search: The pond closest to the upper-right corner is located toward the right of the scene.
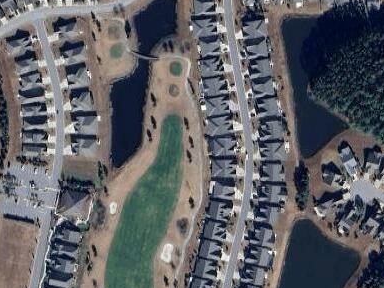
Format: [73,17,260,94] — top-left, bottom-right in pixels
[282,11,374,157]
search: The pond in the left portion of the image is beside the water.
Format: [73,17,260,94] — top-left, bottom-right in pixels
[109,0,178,166]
